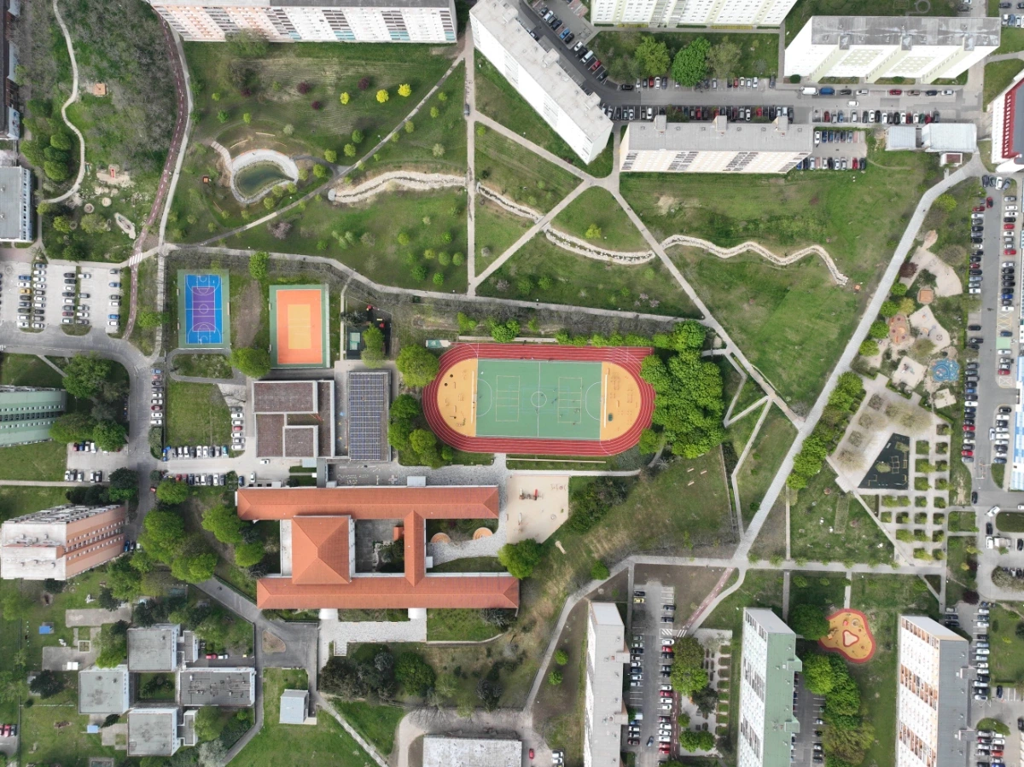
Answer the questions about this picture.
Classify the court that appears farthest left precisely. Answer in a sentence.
Looking closely, the court that appears farthest left is a basketball court.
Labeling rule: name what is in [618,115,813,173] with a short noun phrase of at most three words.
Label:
building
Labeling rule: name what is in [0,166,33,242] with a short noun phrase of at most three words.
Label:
building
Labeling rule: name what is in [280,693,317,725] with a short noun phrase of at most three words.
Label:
shed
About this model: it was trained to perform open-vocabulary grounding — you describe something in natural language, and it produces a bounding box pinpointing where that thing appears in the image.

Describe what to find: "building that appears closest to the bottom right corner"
[896,616,977,767]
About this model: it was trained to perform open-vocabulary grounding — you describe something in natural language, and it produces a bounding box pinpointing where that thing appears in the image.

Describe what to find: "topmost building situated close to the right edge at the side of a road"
[783,16,1001,82]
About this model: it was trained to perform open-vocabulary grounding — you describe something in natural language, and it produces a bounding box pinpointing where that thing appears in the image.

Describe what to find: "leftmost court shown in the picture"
[177,269,230,349]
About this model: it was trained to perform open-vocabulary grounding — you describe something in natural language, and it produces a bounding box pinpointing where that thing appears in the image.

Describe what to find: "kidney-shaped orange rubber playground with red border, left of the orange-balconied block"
[817,609,876,663]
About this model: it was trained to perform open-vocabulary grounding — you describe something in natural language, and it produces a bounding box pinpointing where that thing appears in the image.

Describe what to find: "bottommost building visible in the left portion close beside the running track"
[237,475,519,620]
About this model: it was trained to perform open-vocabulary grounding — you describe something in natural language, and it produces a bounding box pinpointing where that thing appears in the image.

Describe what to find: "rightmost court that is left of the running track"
[270,285,327,368]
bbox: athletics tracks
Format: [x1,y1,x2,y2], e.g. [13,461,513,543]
[422,342,656,457]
